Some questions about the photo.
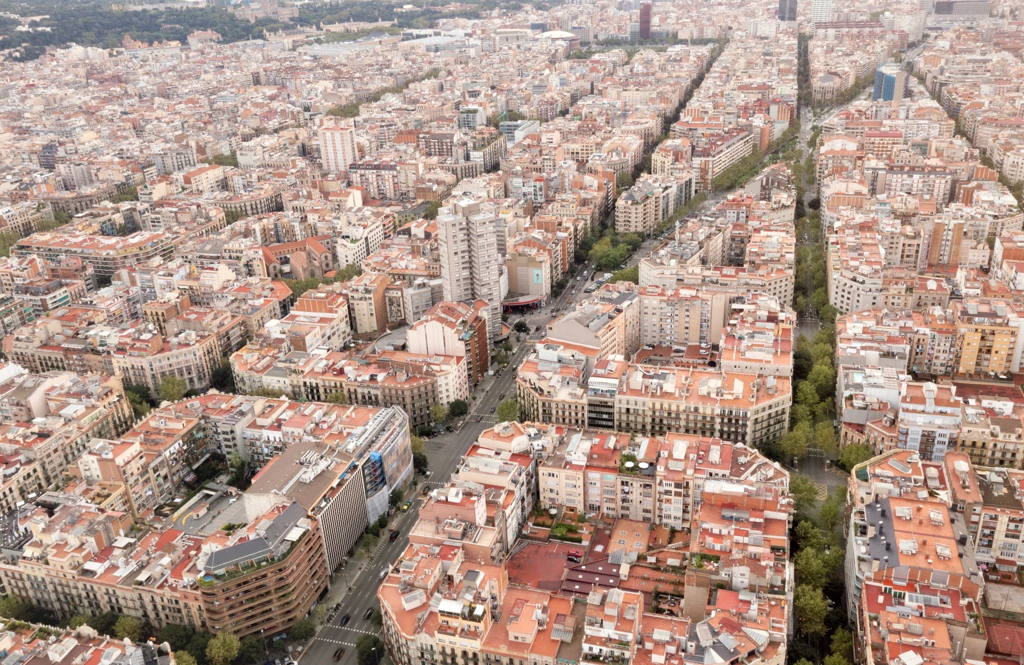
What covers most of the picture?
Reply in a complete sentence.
The scene is dominated by buildings.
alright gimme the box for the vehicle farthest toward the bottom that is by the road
[331,647,344,660]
